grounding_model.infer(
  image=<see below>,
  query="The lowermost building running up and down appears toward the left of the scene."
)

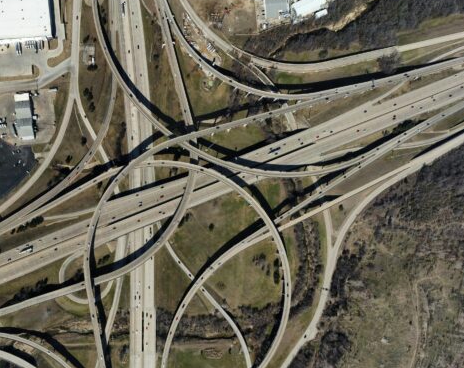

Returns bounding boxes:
[15,92,35,141]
